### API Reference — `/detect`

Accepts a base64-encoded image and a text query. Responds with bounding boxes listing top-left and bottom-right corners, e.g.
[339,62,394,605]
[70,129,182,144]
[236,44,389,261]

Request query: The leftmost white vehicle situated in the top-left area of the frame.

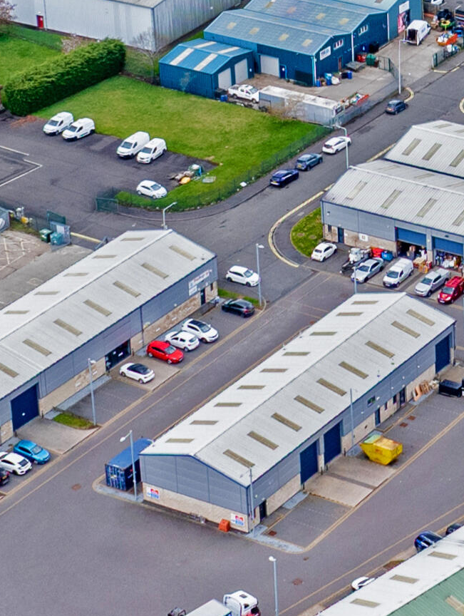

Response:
[45,113,72,134]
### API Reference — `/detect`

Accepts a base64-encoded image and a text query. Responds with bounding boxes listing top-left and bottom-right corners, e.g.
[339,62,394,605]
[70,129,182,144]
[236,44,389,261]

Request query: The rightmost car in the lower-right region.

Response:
[437,520,464,534]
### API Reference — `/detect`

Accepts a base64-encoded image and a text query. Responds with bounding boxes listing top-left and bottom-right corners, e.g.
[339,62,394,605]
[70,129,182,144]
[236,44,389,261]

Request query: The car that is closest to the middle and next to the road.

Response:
[220,299,256,317]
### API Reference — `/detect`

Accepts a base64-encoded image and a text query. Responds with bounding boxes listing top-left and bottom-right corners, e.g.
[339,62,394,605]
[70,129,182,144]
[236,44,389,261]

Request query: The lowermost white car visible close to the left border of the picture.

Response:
[0,456,30,475]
